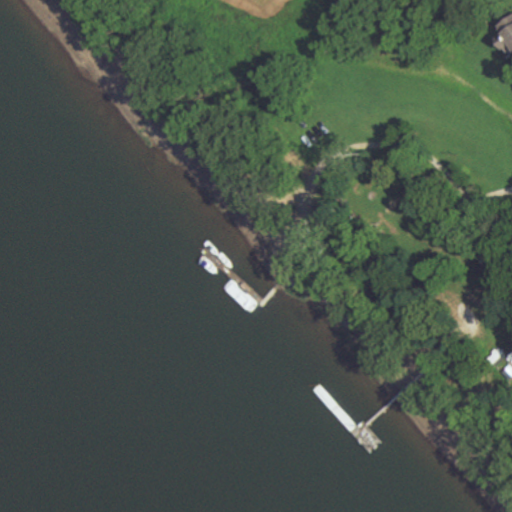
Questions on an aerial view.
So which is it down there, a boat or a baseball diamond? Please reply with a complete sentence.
There is a boat in the scene.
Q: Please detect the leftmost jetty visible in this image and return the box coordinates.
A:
[201,248,262,306]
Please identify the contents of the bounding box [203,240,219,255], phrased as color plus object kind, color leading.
white boat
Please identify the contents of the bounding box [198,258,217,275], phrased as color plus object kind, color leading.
white boat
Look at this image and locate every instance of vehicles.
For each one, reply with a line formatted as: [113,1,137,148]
[306,131,317,142]
[316,121,329,134]
[312,126,322,137]
[301,136,312,147]
[465,310,474,323]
